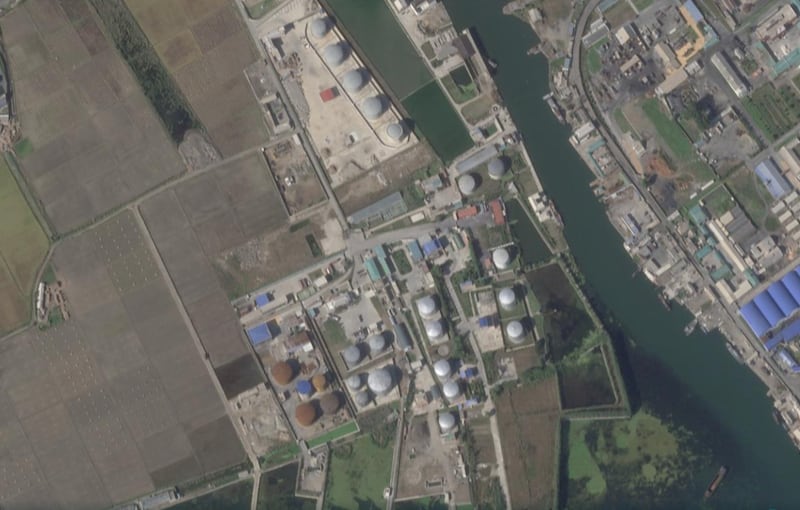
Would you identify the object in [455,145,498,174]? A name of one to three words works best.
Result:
shed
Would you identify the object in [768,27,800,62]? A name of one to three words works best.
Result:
building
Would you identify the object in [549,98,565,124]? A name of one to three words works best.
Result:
ship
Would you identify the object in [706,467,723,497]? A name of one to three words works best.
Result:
vessel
